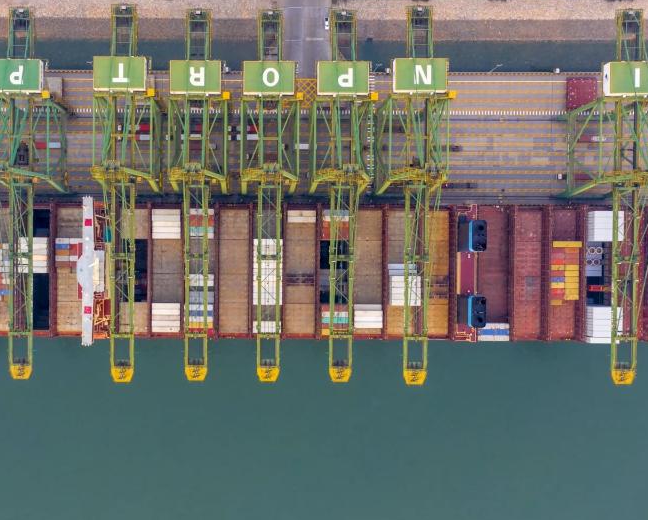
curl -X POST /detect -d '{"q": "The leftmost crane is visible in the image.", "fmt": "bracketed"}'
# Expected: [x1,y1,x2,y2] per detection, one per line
[0,6,78,379]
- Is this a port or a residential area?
port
